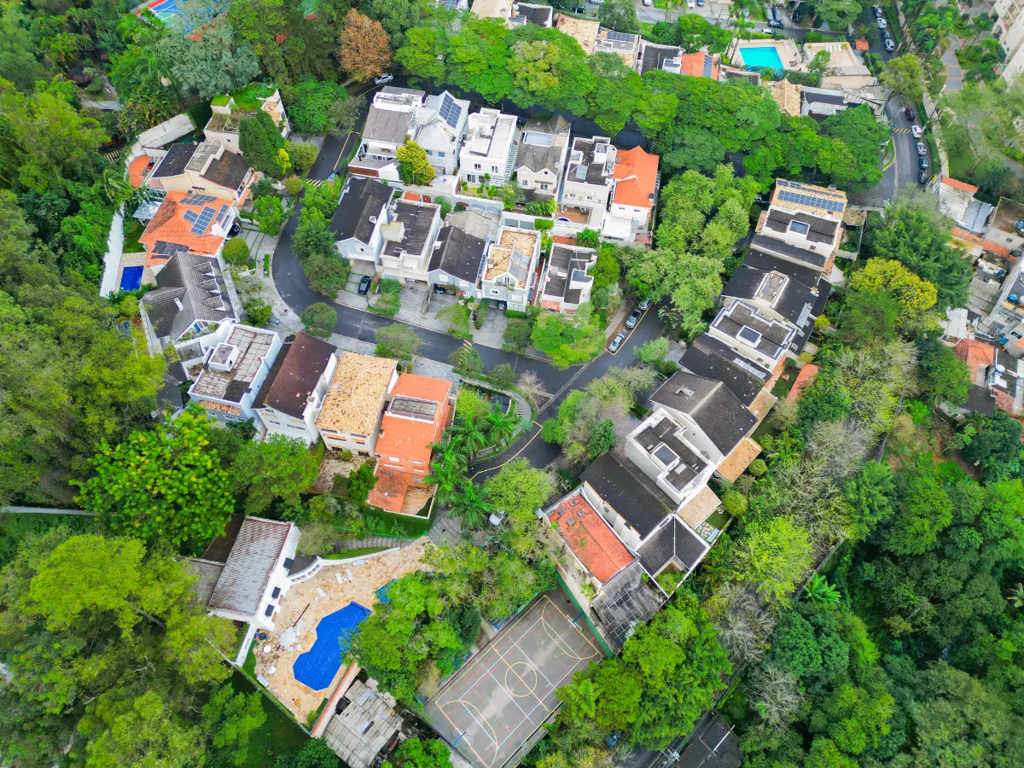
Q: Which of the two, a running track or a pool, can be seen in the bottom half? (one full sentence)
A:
Visible in the bottom half is a pool.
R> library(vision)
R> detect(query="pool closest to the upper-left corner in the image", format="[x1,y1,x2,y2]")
[118,264,145,293]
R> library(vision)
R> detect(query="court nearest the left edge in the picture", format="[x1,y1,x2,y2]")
[145,0,240,37]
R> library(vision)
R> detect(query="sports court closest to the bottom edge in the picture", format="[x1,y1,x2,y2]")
[435,596,598,768]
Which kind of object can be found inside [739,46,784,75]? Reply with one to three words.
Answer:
swimming pool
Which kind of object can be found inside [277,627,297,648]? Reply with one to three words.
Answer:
umbrella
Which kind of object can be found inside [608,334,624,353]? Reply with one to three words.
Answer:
car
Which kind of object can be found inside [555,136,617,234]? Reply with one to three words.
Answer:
house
